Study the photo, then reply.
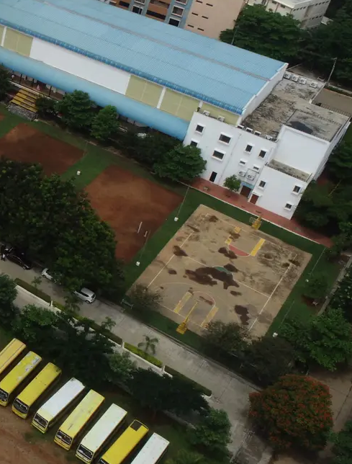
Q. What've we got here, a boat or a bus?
bus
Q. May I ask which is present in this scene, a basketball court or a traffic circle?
basketball court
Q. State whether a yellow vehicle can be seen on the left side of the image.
Yes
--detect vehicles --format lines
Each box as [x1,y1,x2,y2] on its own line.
[10,364,63,421]
[74,289,98,305]
[73,405,126,464]
[54,390,105,453]
[101,420,148,464]
[31,377,82,438]
[7,251,31,268]
[0,341,26,384]
[136,435,172,464]
[0,353,42,410]
[43,269,62,284]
